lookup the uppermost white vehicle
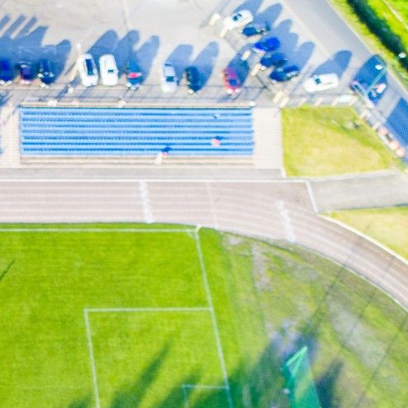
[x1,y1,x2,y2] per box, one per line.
[223,8,252,29]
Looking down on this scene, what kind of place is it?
sports ground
